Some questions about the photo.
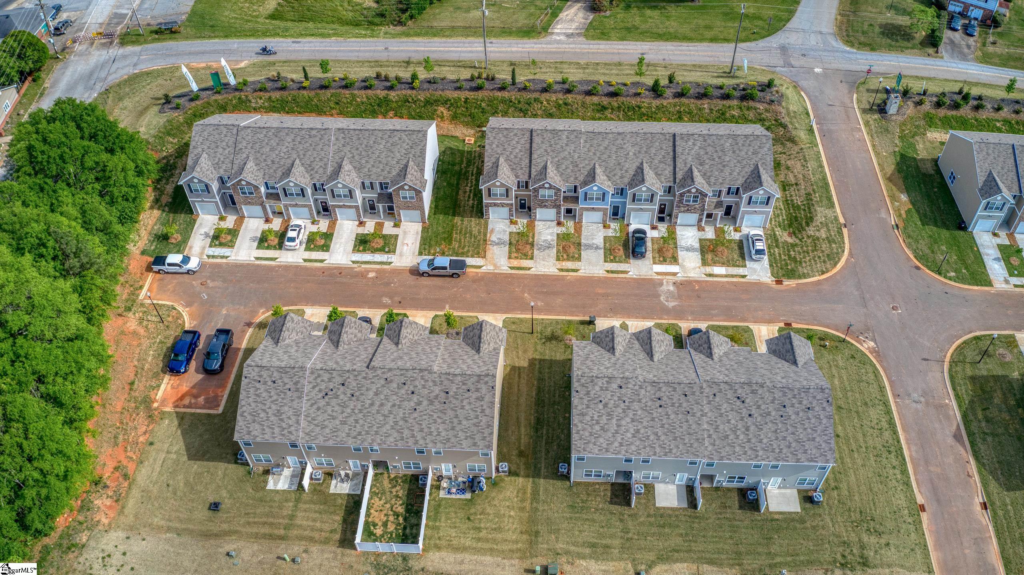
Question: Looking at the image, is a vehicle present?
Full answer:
Yes, a vehicle is visible in the scene.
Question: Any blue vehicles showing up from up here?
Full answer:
Yes, I can see a blue vehicle in this picture.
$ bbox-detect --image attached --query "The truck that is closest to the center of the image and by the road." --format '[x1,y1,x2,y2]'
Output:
[417,258,467,280]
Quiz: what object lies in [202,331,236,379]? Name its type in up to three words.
truck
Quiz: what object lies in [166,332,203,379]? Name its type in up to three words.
truck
